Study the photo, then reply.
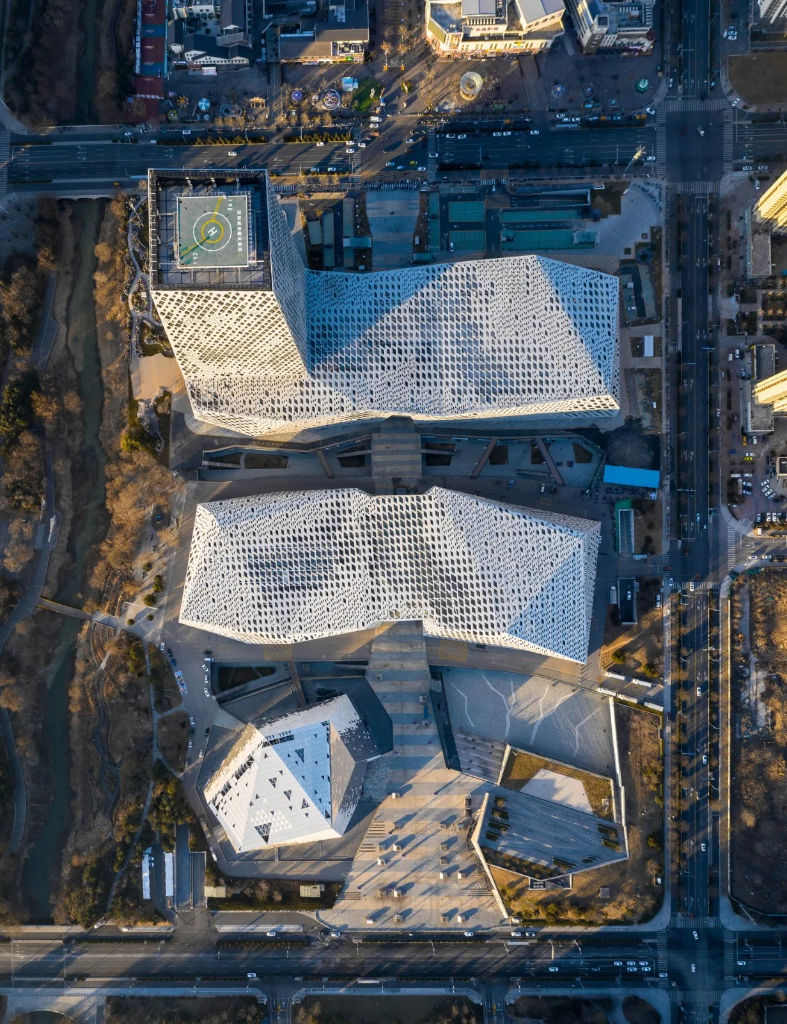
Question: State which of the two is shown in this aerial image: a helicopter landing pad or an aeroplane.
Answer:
helicopter landing pad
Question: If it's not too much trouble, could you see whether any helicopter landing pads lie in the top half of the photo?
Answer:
Yes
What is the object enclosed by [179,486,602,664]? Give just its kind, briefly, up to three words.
building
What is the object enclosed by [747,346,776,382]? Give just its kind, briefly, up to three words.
building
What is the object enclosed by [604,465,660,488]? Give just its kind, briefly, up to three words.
shed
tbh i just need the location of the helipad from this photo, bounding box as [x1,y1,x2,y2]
[173,191,253,272]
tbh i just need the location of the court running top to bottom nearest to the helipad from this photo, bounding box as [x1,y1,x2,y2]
[123,0,164,123]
